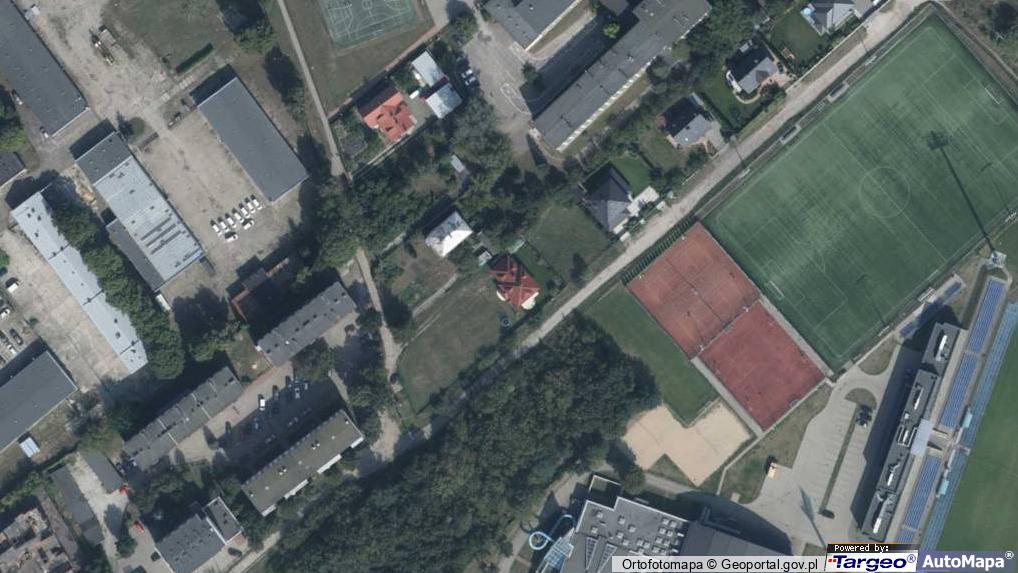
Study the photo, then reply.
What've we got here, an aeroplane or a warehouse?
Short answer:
warehouse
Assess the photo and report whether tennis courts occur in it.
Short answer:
Yes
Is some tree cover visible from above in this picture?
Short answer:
Yes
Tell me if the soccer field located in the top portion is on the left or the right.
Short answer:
right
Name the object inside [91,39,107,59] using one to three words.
vehicle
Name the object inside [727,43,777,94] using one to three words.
house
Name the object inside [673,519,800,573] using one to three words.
building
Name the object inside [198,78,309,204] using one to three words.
warehouse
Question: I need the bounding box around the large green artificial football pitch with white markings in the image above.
[703,14,1018,371]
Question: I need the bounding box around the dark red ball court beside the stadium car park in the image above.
[700,300,825,430]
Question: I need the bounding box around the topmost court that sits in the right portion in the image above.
[626,223,760,358]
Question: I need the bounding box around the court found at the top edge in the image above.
[318,0,419,49]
